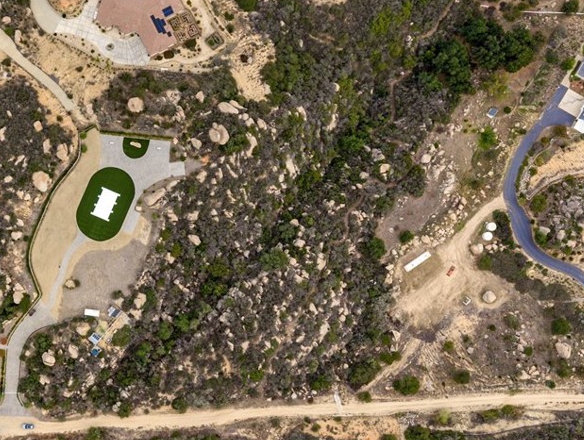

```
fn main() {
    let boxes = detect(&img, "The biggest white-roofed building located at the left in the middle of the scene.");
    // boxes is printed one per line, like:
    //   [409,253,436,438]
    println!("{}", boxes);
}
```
[91,187,120,222]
